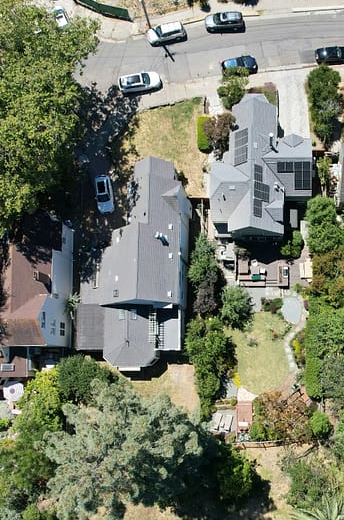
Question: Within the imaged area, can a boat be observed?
No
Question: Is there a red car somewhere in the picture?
No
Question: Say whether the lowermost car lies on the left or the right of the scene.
left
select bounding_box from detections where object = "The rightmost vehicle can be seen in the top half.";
[313,46,344,65]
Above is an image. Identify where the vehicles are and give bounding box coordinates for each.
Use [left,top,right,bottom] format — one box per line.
[222,56,258,73]
[313,46,344,65]
[95,175,115,214]
[205,12,246,34]
[50,7,72,32]
[146,22,188,46]
[118,71,160,94]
